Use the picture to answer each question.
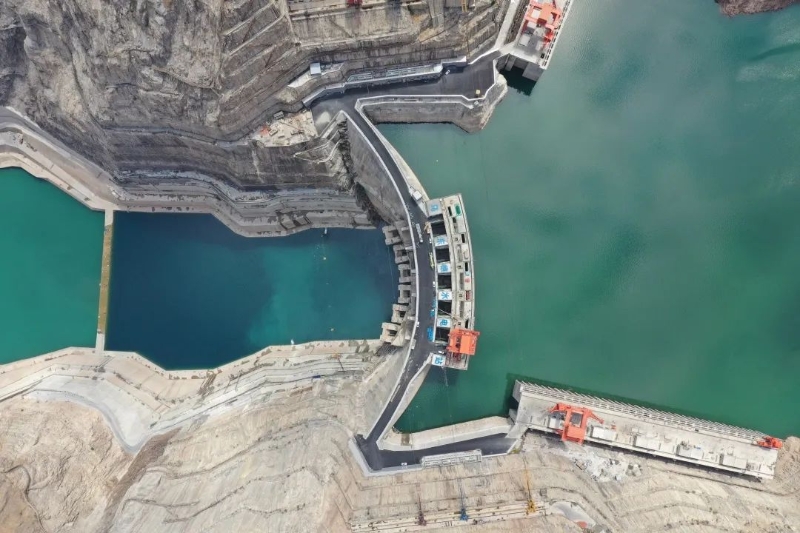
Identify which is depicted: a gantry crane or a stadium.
gantry crane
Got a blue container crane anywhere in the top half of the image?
No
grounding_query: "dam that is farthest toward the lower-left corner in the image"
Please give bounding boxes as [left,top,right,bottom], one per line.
[95,209,114,353]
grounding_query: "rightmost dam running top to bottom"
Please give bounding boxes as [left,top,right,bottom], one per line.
[341,106,474,440]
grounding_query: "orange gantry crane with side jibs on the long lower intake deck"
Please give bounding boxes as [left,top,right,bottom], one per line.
[552,396,598,445]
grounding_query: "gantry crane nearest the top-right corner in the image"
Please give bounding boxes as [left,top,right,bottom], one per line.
[514,0,567,48]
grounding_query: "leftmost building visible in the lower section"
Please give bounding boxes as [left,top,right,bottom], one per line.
[422,448,482,467]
